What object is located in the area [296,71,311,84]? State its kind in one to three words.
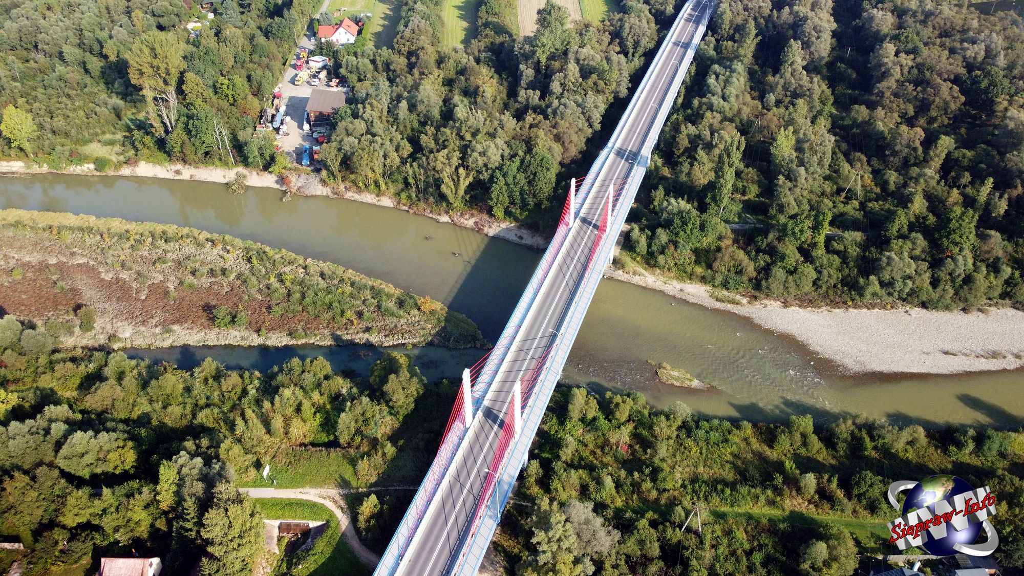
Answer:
vehicle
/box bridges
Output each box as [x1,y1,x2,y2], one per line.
[369,0,718,576]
